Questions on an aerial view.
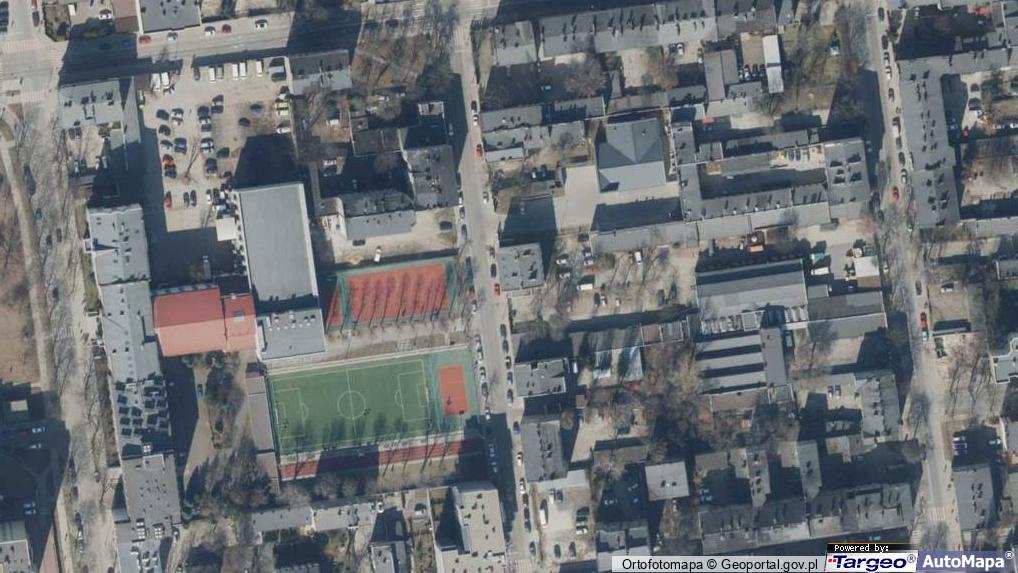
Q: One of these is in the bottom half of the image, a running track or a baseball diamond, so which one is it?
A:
running track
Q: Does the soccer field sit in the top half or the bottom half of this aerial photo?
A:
bottom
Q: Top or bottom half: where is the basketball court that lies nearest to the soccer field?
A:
bottom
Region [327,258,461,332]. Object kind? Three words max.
sports court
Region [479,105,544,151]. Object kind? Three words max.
building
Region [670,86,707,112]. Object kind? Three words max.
building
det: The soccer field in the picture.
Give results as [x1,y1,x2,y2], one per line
[267,355,432,455]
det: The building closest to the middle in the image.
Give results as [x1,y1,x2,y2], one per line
[498,243,545,292]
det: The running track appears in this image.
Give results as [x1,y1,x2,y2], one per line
[279,428,486,480]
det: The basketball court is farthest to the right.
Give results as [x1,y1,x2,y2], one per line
[425,348,483,432]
